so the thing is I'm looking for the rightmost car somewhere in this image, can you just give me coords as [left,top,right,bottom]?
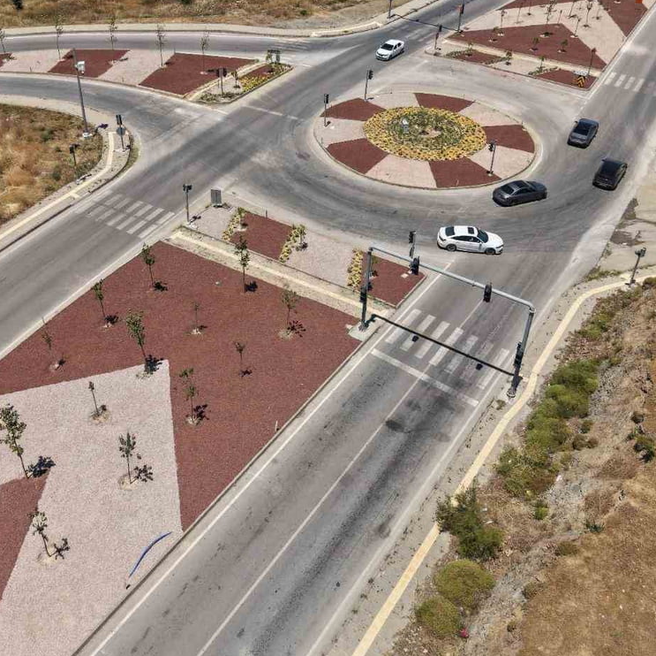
[596,156,628,183]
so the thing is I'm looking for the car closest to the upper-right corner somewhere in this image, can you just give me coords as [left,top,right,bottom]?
[571,116,599,139]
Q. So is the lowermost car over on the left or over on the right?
right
